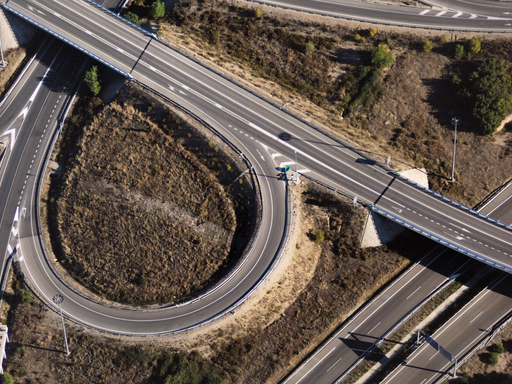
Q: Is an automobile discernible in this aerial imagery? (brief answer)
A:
No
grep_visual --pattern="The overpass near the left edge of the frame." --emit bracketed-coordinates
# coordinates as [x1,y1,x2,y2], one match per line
[2,0,159,75]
